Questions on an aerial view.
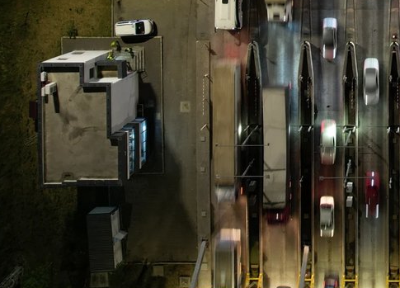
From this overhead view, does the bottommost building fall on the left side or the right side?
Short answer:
left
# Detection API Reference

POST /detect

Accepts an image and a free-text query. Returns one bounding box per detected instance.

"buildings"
[87,206,132,278]
[41,44,151,187]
